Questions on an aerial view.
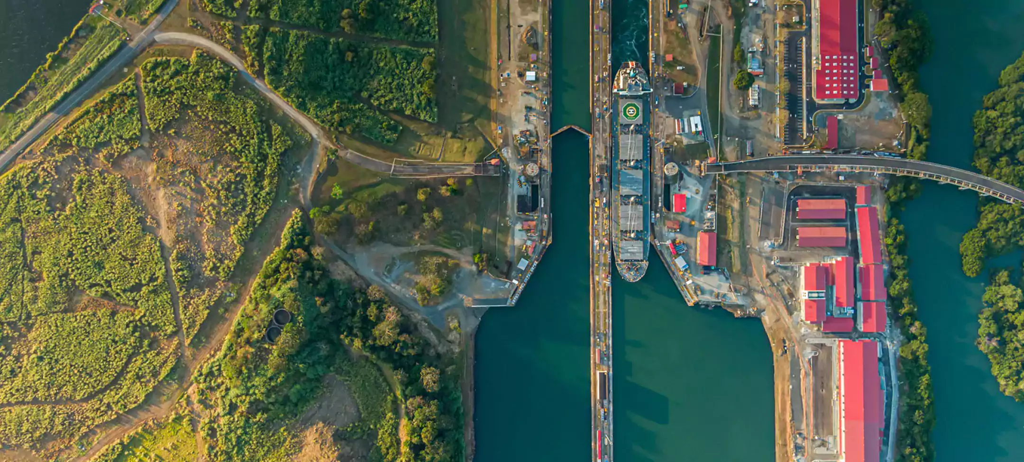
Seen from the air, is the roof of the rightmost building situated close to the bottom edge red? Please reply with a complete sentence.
Yes, the roof of the rightmost building situated close to the bottom edge appears red.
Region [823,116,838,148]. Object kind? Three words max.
shed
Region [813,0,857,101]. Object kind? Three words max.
building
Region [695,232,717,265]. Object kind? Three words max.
building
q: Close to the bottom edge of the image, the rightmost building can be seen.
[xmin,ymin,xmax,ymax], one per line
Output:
[837,340,885,462]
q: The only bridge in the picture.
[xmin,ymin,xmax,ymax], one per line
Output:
[700,156,1024,213]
